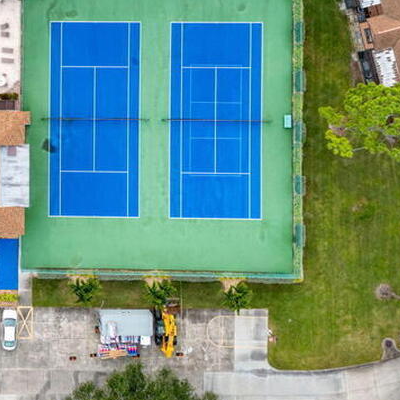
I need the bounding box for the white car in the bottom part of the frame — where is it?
[1,308,19,350]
